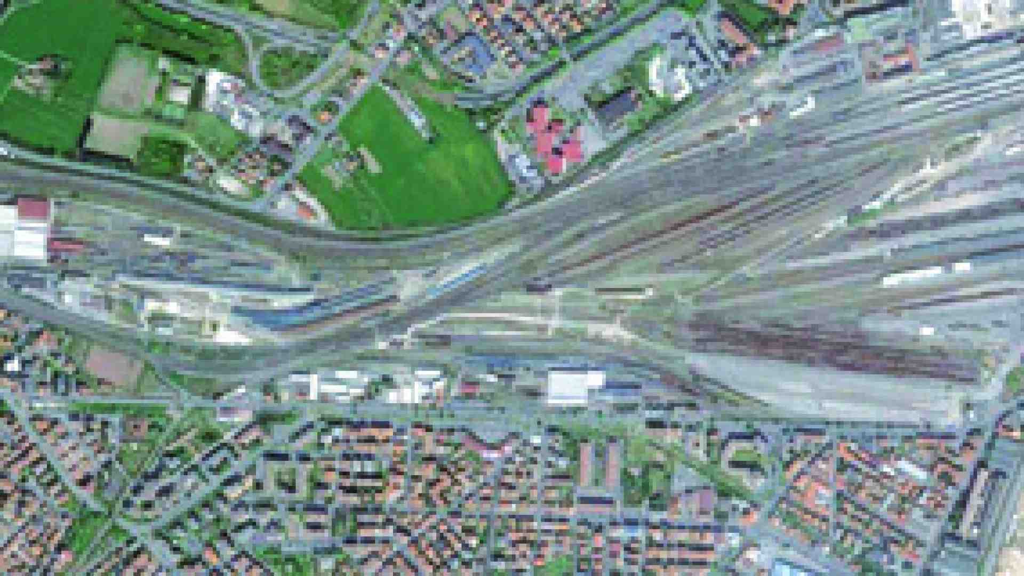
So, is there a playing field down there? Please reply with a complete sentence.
Yes, there's a playing field down there.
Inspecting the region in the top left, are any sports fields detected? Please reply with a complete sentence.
Yes, a sports field is visible in the top left.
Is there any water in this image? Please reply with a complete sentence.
No, the picture contains no water.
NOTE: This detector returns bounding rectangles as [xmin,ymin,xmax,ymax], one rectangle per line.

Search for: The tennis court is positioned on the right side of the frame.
[849,17,872,41]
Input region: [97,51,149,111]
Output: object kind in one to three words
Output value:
sports field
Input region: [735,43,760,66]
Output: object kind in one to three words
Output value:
building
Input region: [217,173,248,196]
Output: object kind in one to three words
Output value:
barn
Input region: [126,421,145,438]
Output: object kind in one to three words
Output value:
house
